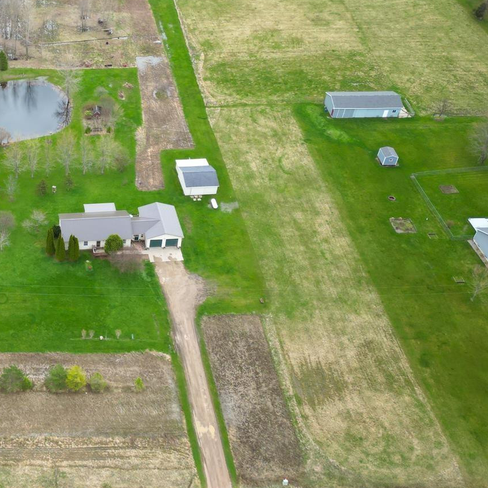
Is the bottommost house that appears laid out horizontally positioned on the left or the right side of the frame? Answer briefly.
left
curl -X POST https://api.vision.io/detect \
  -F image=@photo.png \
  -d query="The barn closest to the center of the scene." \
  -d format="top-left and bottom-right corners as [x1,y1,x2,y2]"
[176,158,219,195]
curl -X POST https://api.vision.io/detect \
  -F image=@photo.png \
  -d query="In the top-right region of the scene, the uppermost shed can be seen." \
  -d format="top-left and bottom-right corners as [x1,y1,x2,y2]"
[324,91,403,117]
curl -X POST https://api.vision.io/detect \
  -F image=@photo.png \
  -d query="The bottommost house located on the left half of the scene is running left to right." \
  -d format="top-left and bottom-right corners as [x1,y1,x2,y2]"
[60,201,185,254]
